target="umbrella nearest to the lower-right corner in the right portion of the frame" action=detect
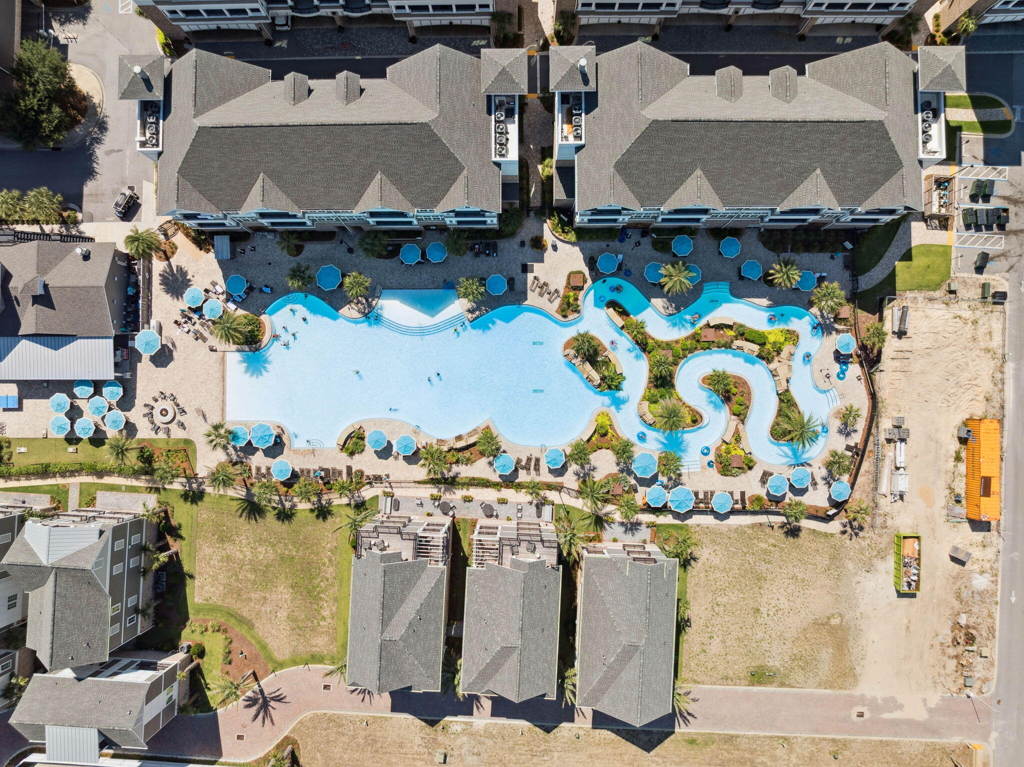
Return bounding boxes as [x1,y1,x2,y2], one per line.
[828,480,851,502]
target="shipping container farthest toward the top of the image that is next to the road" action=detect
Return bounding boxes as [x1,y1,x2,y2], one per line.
[964,418,999,521]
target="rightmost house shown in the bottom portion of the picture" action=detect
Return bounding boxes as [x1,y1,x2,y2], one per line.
[571,533,679,728]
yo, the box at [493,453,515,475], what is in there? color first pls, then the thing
blue umbrella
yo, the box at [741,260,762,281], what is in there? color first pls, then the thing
blue umbrella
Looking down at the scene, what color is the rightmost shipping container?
orange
